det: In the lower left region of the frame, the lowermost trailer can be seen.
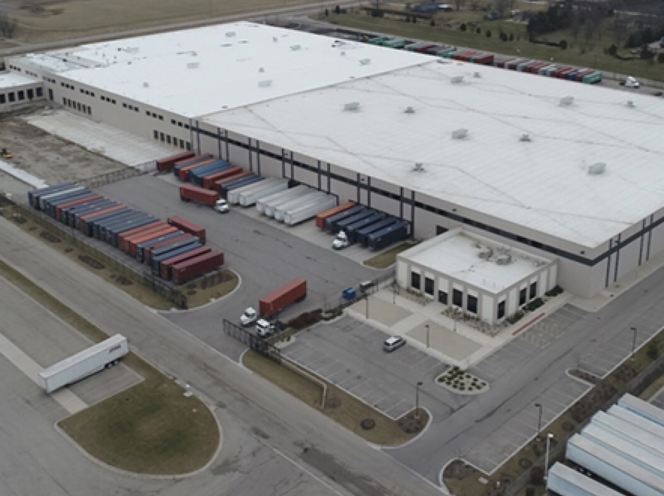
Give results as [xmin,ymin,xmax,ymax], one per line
[36,335,132,391]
